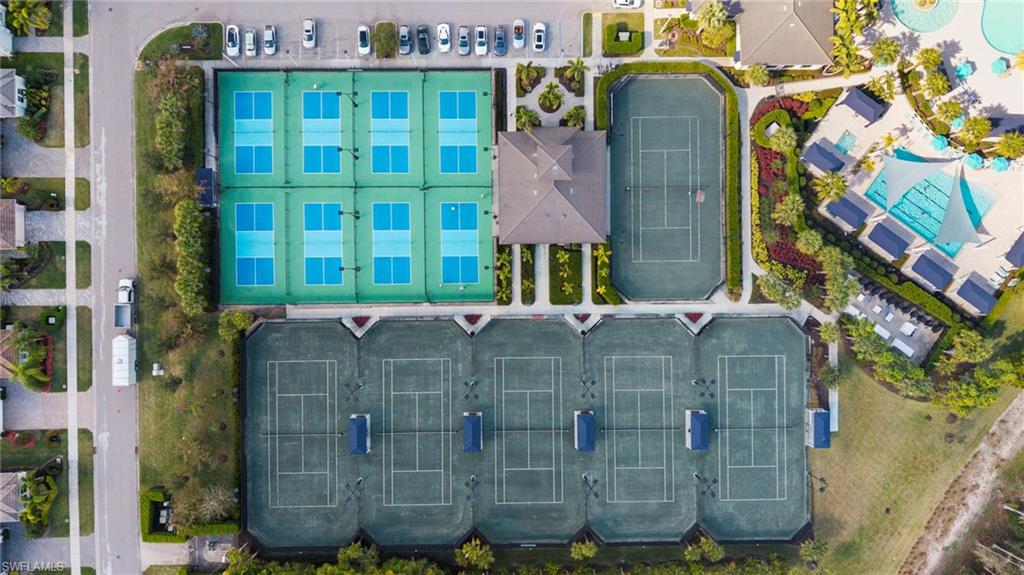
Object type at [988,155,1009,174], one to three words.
umbrella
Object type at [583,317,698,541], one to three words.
tennis court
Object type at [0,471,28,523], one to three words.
house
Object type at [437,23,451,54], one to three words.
car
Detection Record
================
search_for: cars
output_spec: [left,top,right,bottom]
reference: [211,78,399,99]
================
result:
[493,25,508,58]
[532,23,546,53]
[398,25,411,56]
[457,26,471,57]
[244,28,258,58]
[417,25,431,56]
[437,23,451,54]
[474,26,488,57]
[302,19,317,50]
[512,20,525,50]
[357,26,371,57]
[263,26,277,57]
[226,27,240,57]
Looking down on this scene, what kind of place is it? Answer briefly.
sports ground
